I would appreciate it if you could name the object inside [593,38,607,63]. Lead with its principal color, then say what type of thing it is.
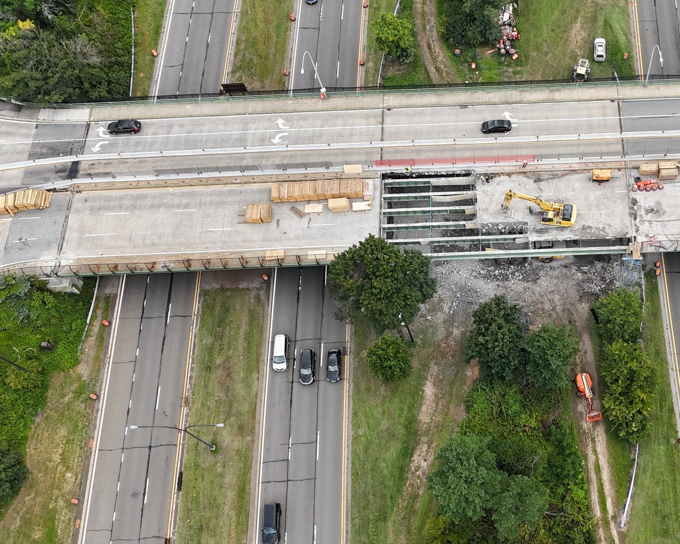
white car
